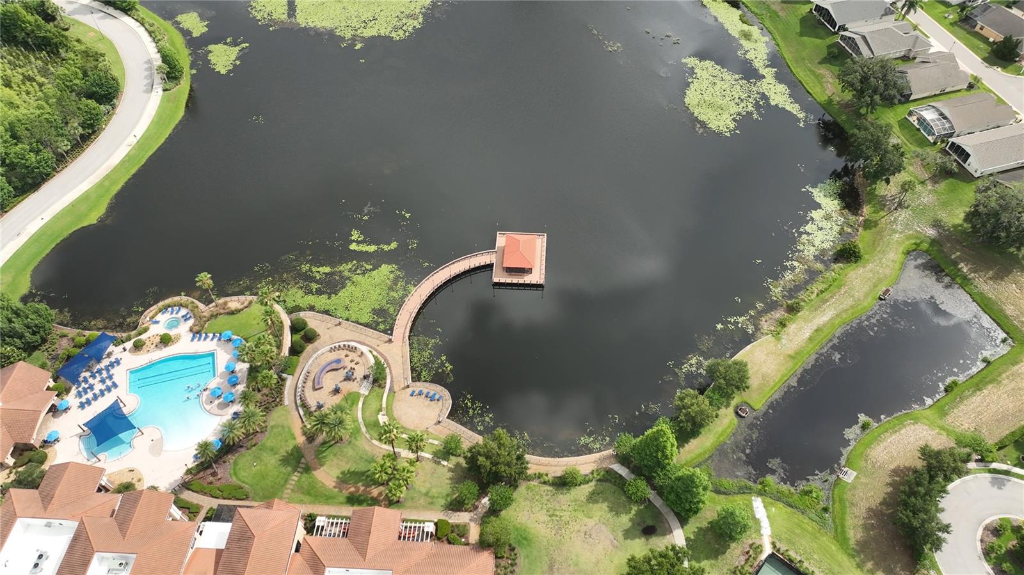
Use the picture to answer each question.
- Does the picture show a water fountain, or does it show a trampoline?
water fountain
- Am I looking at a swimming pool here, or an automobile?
swimming pool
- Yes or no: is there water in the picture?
Yes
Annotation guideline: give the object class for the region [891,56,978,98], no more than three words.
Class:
house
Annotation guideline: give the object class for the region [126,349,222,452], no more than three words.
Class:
swimming pool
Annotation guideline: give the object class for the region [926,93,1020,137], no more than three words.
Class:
building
